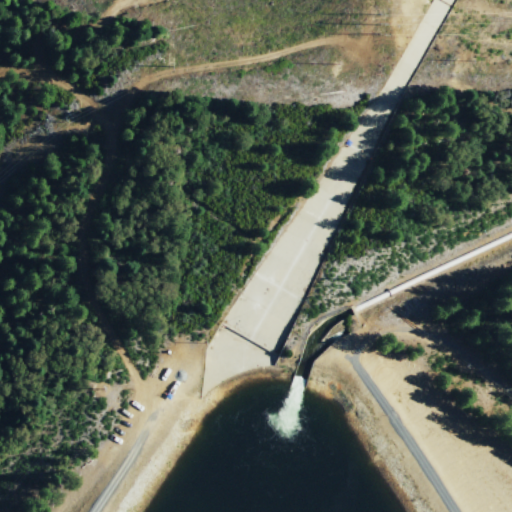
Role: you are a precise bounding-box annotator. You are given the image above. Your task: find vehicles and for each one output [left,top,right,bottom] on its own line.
[131,400,145,412]
[114,427,126,436]
[121,409,134,419]
[110,434,124,444]
[162,367,173,382]
[120,420,132,428]
[170,380,180,394]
